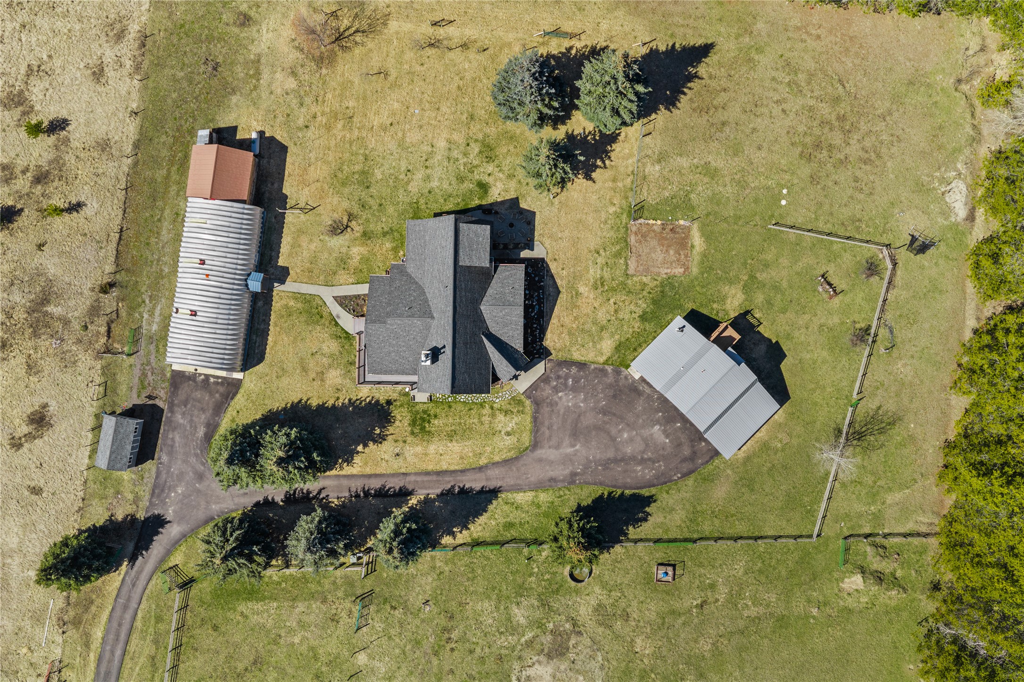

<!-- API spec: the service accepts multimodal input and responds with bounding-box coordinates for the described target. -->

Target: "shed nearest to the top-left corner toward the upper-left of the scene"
[189,143,269,204]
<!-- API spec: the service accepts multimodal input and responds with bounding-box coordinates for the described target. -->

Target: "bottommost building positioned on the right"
[633,315,780,458]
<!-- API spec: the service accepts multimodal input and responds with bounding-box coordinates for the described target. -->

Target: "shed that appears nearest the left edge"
[94,414,143,472]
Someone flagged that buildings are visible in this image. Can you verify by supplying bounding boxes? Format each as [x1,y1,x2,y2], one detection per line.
[163,197,268,373]
[366,214,529,394]
[94,414,143,472]
[633,315,780,458]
